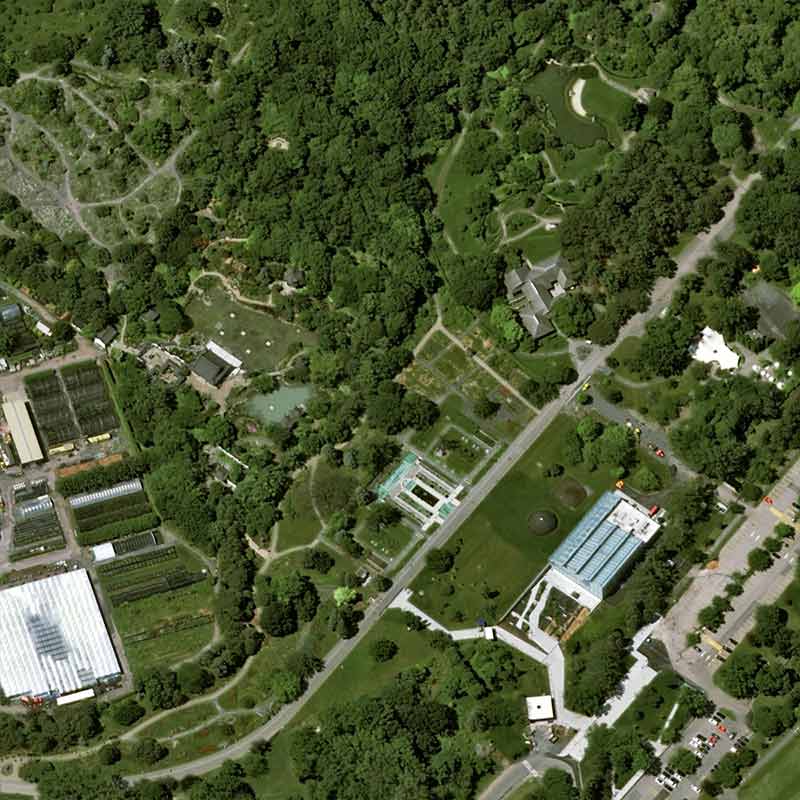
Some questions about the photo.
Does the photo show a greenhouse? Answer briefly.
Yes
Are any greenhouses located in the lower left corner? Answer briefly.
Yes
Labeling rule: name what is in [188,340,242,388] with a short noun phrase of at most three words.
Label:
building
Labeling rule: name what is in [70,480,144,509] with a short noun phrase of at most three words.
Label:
greenhouse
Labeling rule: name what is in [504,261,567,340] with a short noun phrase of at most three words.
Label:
building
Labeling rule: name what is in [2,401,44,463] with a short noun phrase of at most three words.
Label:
shed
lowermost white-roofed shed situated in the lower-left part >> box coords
[56,688,96,705]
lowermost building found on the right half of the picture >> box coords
[526,695,553,720]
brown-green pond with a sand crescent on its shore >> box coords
[524,66,609,148]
